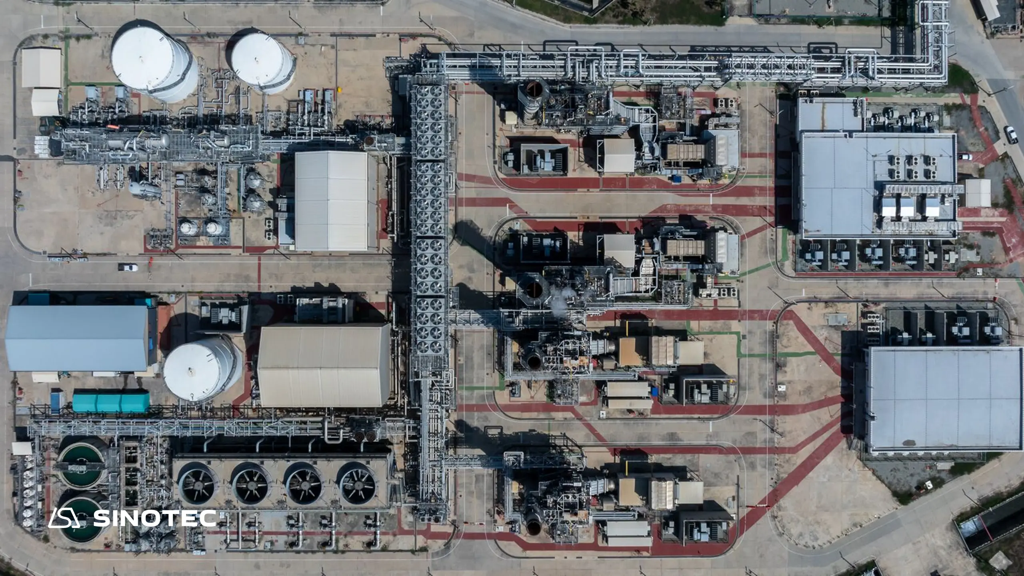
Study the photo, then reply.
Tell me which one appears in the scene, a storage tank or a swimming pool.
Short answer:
storage tank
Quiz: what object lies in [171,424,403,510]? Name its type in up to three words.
cooling tower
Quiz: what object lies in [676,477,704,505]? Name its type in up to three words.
building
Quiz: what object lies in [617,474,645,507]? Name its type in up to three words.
house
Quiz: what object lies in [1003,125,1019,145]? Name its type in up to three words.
vehicle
